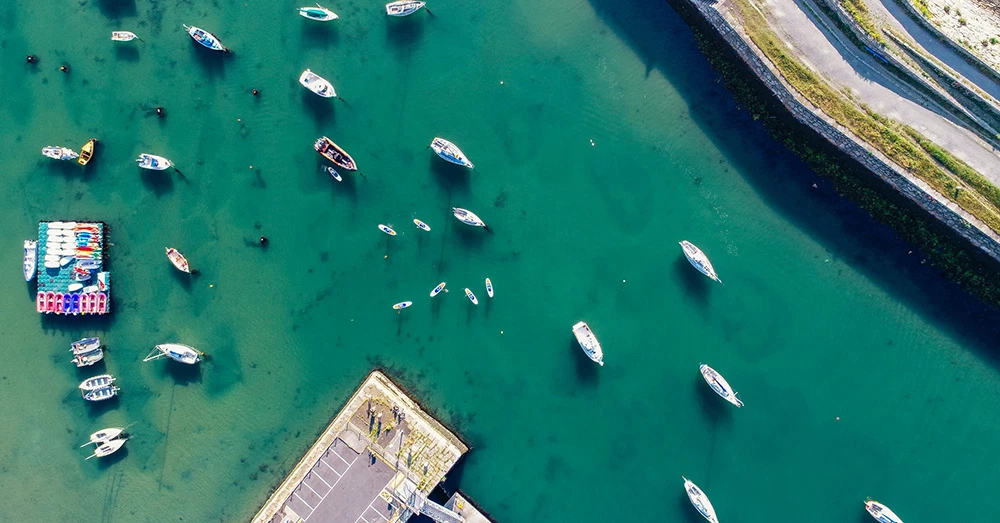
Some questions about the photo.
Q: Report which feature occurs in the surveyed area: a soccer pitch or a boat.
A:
boat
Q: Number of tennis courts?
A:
none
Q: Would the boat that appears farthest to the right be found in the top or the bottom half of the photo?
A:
bottom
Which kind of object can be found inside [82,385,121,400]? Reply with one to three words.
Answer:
boat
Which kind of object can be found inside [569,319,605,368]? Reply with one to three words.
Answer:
boat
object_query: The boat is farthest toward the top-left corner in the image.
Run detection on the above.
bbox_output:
[110,31,147,44]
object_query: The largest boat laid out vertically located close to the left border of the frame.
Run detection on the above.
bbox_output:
[22,237,39,281]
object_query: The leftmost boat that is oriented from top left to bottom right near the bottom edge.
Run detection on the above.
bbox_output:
[683,476,724,523]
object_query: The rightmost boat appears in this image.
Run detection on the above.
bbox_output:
[860,498,903,523]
